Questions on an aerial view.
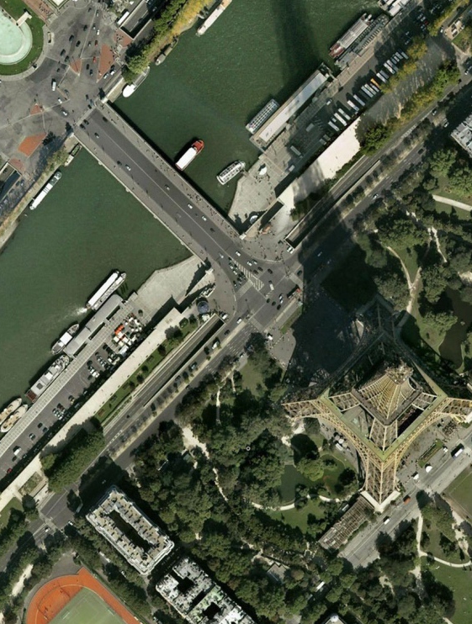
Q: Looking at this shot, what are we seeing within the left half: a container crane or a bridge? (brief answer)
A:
bridge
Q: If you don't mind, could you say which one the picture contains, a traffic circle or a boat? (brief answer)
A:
boat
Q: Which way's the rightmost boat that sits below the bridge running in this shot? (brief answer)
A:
diagonally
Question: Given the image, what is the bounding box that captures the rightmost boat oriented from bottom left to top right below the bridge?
[86,270,124,310]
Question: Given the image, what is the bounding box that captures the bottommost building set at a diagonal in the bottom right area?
[320,498,374,549]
